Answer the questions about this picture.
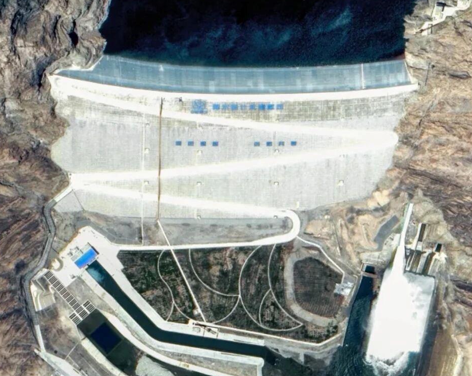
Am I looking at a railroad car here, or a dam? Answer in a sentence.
Looking from above, you can make out a dam.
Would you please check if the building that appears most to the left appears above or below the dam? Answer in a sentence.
The building that appears most to the left is below the dam.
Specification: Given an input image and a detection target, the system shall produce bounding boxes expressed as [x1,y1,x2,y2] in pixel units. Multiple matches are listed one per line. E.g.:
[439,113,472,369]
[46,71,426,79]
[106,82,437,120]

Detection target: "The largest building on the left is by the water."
[72,244,100,270]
